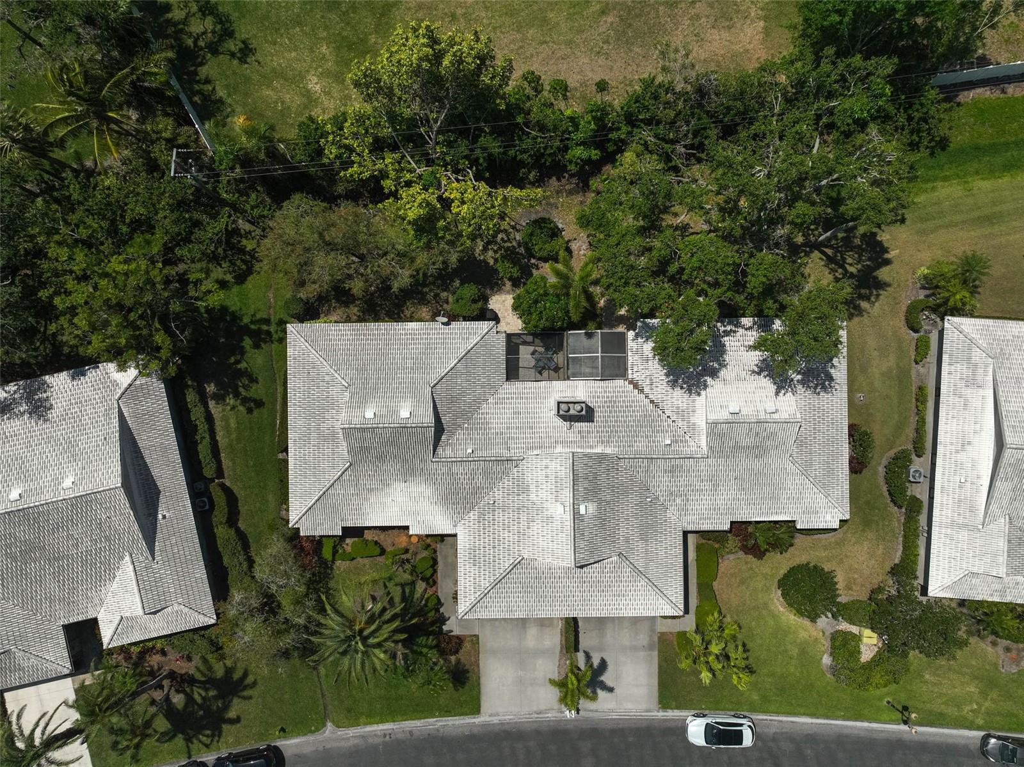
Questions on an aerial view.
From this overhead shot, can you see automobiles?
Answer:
Yes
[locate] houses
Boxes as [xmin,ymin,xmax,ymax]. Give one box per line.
[286,317,850,619]
[917,316,1024,604]
[0,356,228,690]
